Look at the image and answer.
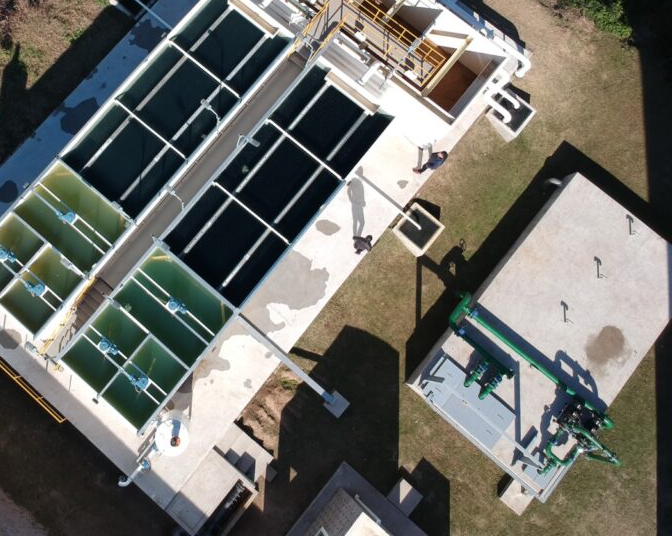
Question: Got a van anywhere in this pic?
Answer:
No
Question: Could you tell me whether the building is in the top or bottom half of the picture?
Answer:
bottom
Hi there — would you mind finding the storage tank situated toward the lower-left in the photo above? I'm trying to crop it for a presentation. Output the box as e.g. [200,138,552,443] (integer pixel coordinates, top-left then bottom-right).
[153,408,193,456]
